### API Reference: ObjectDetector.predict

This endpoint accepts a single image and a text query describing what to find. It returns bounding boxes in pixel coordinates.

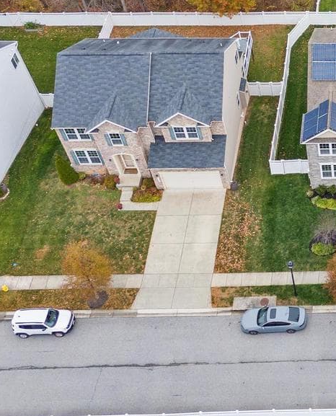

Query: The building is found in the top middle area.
[51,21,256,194]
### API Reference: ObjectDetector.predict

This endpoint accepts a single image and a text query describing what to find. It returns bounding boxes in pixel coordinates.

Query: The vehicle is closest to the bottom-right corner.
[241,305,307,336]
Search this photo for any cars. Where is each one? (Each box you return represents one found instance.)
[241,305,307,336]
[9,307,72,338]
